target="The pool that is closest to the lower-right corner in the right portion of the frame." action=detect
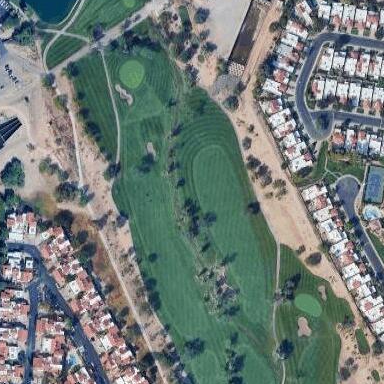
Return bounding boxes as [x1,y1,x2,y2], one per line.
[363,204,382,218]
